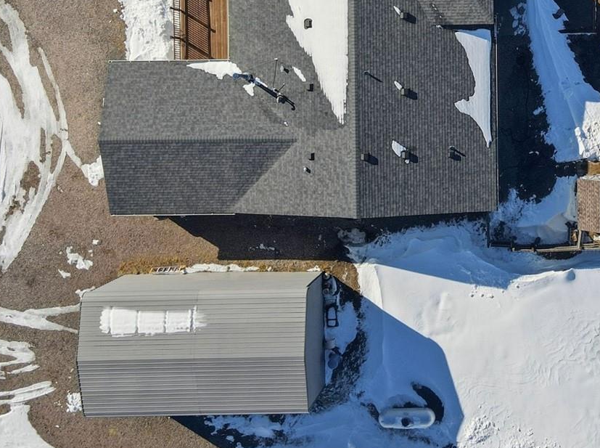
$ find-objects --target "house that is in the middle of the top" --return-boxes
[99,0,500,219]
